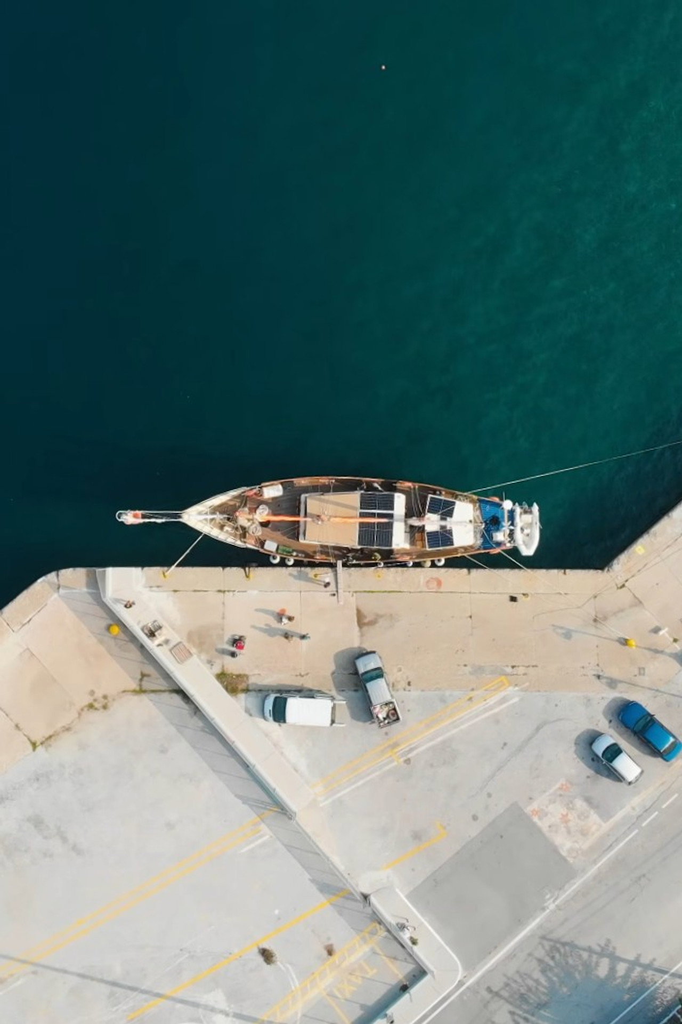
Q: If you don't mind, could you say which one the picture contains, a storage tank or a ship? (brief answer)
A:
ship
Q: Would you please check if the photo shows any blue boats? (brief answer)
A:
No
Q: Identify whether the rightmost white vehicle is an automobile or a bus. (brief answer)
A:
automobile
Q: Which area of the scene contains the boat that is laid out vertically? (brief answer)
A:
right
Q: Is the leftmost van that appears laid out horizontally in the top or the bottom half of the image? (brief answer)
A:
bottom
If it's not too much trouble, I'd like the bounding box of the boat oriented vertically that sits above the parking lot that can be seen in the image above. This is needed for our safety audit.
[514,501,541,556]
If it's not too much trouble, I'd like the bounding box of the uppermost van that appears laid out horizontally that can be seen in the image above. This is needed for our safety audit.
[263,690,347,727]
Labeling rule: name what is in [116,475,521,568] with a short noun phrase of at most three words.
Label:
ship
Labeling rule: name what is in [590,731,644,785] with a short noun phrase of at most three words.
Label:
car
